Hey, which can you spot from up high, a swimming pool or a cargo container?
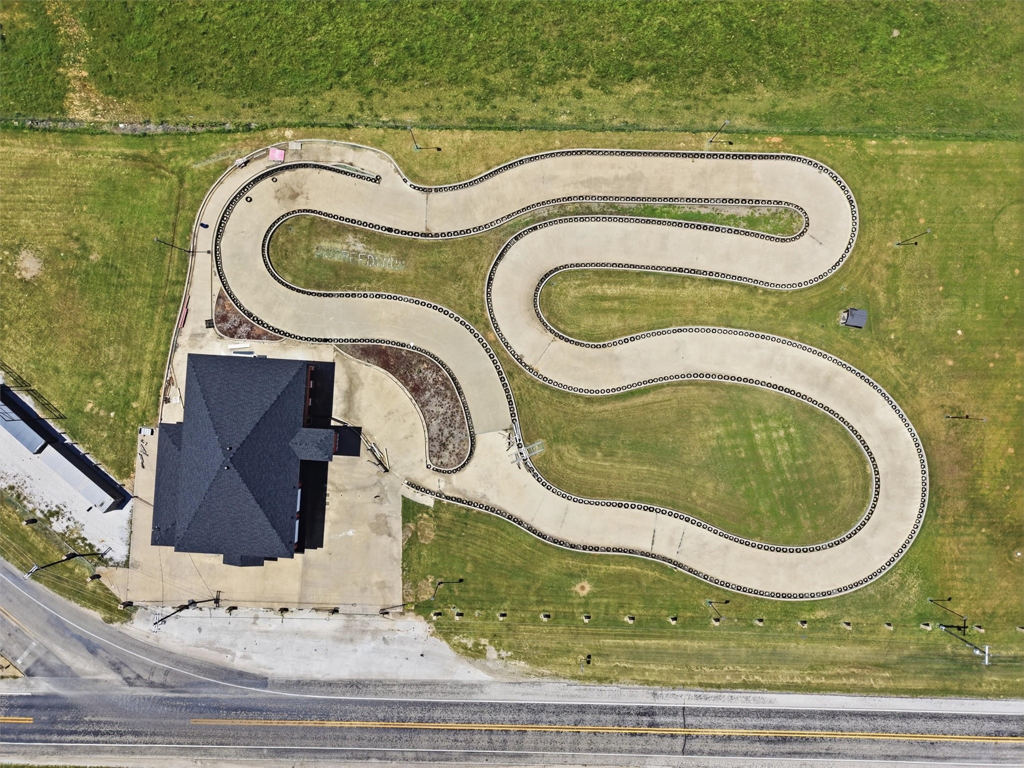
cargo container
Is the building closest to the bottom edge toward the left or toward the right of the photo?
left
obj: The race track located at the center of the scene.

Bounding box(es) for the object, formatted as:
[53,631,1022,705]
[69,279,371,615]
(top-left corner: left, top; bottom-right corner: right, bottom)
[221,156,920,592]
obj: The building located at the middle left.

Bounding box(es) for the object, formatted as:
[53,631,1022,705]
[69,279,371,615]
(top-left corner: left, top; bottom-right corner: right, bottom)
[149,353,339,567]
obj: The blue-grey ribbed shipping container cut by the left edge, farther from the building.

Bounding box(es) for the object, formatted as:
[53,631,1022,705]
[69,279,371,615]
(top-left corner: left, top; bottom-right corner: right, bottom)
[0,390,58,454]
